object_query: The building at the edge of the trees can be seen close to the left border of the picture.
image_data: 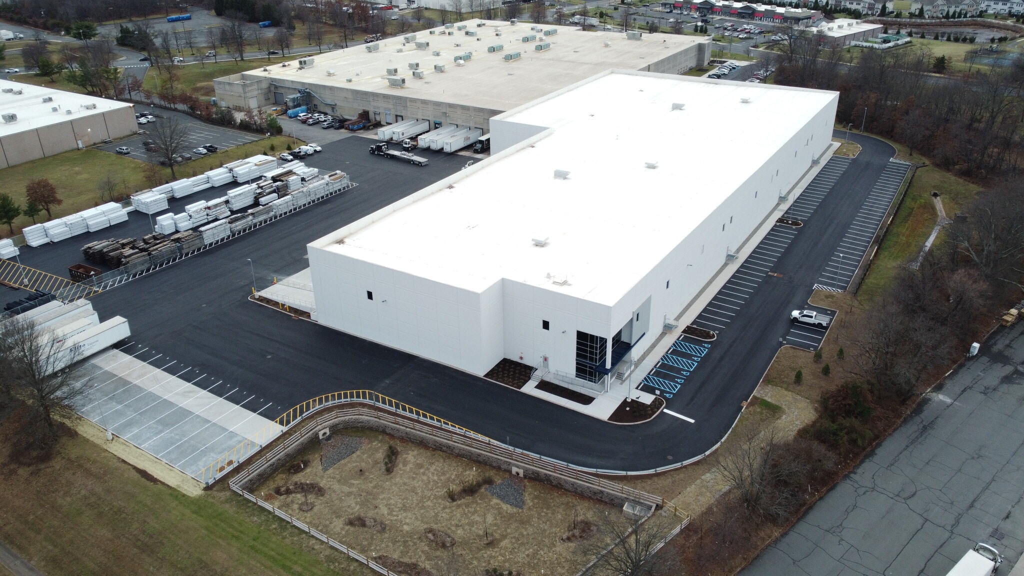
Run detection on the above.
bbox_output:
[0,79,140,169]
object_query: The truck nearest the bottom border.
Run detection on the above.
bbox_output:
[949,546,1001,576]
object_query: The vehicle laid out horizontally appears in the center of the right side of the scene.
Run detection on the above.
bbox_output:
[789,311,831,331]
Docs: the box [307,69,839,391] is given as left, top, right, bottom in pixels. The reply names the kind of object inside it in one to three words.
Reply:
warehouse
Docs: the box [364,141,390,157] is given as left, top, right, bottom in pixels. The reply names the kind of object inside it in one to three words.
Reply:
vehicle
